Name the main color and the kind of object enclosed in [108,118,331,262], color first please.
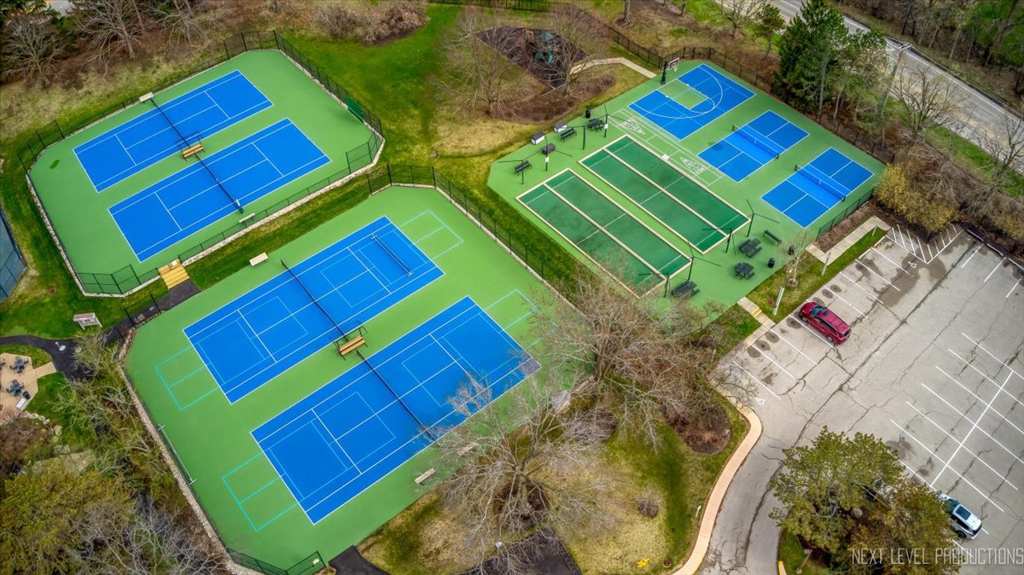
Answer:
blue tennis court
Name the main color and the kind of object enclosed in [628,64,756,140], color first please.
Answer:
blue basketball court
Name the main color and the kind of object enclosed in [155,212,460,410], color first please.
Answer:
blue tennis court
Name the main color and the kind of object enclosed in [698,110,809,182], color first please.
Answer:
blue sports court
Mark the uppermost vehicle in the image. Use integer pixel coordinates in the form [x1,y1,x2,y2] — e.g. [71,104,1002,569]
[798,305,855,348]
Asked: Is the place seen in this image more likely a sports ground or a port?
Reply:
sports ground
